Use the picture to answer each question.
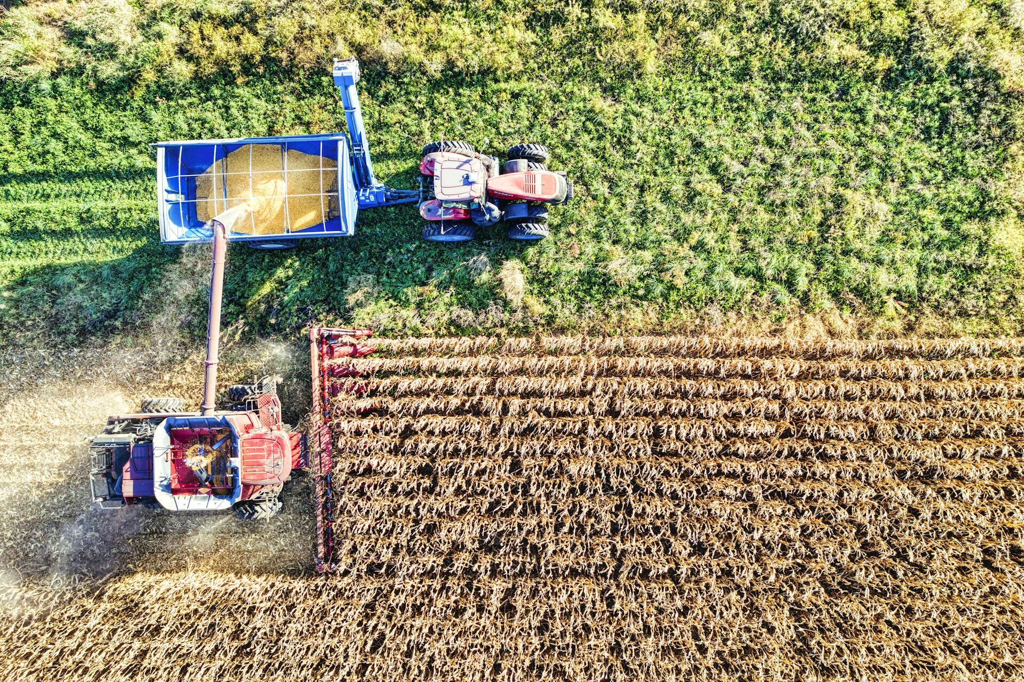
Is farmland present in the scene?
Yes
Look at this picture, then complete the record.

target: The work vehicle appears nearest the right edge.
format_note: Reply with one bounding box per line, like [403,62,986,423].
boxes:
[419,135,577,243]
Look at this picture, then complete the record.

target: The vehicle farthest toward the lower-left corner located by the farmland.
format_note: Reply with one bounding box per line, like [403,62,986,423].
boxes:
[83,220,393,574]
